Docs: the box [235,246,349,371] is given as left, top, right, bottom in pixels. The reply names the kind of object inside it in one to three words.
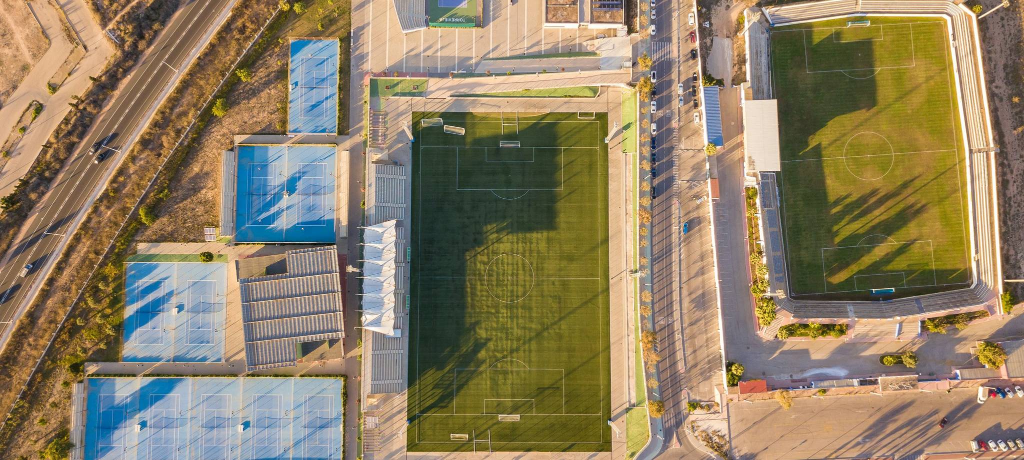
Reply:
building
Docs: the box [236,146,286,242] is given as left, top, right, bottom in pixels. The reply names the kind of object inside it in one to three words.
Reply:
tennis court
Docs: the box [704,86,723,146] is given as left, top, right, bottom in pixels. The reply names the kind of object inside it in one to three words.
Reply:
shed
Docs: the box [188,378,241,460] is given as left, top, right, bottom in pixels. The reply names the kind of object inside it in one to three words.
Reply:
tennis court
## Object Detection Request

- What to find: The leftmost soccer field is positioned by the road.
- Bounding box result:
[407,112,611,452]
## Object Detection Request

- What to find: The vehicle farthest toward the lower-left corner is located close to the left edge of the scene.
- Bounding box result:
[18,263,32,277]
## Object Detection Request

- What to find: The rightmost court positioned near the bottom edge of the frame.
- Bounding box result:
[292,378,343,460]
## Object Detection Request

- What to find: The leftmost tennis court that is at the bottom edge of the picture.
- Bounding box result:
[84,378,139,460]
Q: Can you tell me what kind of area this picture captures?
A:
sports ground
